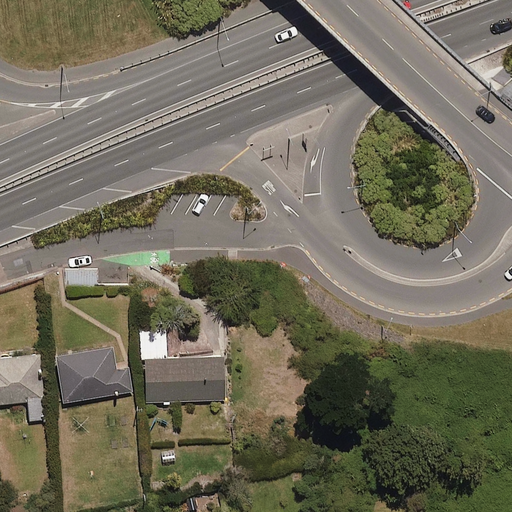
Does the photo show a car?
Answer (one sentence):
Yes, there's a car here.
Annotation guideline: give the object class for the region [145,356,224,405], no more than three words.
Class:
house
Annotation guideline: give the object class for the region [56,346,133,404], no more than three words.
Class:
house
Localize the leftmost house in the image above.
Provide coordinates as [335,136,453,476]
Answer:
[0,354,44,422]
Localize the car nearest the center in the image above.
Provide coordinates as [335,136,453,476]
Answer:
[192,194,208,216]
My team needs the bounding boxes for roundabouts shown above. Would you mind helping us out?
[198,96,512,318]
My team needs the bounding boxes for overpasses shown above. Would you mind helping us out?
[295,0,512,210]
